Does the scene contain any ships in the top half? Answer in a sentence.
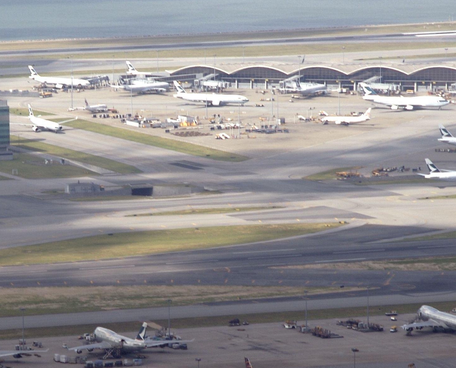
No, no ship appears in the top half.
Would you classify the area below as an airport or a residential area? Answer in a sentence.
What you see here is an airport.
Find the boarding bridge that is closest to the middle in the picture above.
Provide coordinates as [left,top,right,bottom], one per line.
[192,75,233,94]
